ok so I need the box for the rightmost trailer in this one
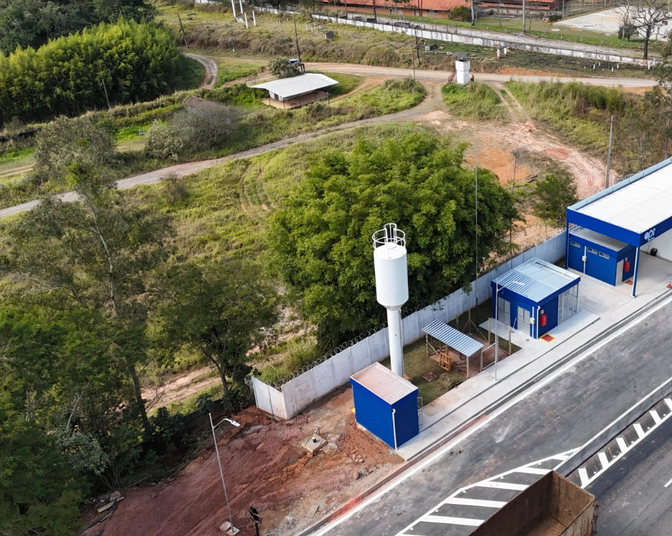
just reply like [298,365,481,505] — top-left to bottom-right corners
[468,468,597,536]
